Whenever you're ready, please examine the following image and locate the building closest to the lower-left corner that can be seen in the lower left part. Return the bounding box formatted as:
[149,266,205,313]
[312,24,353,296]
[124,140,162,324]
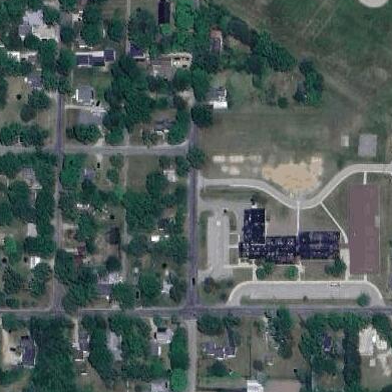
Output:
[22,336,36,369]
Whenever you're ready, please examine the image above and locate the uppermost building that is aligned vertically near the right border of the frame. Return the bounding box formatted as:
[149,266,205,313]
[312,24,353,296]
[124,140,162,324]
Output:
[349,186,383,275]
